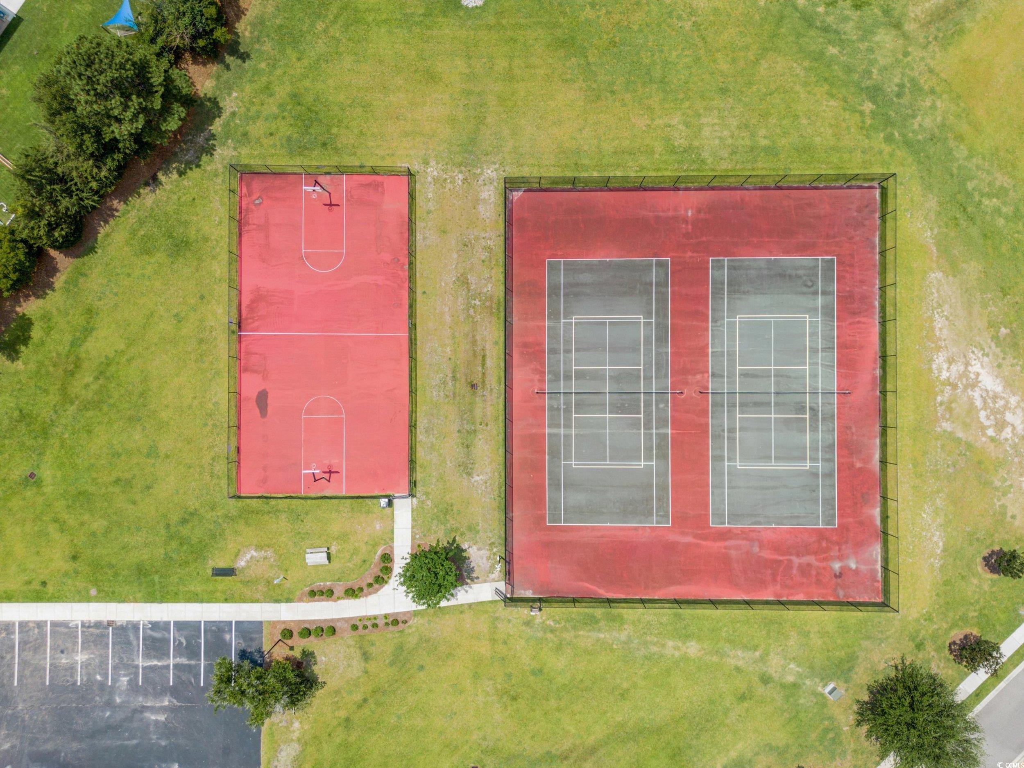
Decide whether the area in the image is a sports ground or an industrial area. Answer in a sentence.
The area seen from above is a sports ground.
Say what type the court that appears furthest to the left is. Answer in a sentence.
The court that appears furthest to the left is a basketball court.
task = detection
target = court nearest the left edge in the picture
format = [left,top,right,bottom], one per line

[236,171,410,495]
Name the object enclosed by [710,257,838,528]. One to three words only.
tennis court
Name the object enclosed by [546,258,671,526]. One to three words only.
tennis court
